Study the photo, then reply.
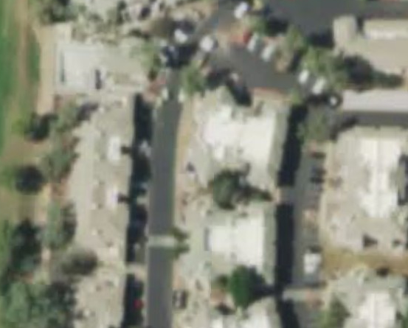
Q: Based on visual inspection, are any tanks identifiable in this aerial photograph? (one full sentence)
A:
No, I find no tank anywhere in the image.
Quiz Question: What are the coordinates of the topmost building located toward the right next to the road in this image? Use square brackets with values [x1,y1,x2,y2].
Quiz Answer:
[335,16,408,74]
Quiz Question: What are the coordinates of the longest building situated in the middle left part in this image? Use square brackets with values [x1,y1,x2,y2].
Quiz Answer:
[68,91,135,267]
